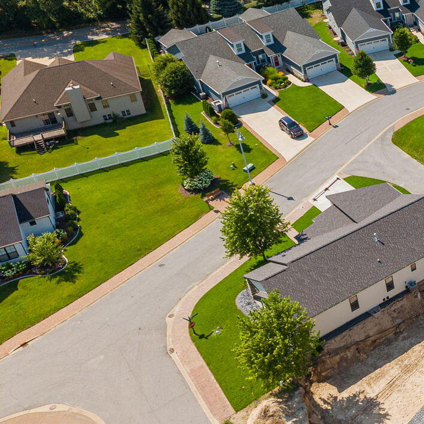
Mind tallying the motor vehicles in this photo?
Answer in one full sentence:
I count just 1 motor vehicle.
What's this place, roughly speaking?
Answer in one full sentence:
What you see here is a residential area.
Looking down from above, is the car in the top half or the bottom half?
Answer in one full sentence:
The car sits in the top half of the picture.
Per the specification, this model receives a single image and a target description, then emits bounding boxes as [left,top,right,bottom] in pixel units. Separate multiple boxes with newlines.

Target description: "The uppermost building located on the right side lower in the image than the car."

[238,184,424,338]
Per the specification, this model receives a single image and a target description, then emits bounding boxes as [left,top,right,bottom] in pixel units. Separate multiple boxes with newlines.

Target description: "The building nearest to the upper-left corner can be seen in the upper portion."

[0,44,146,152]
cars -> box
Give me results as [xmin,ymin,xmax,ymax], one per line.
[278,115,302,137]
